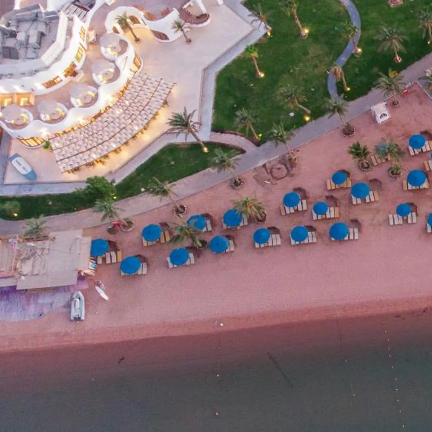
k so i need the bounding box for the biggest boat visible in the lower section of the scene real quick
[70,290,86,322]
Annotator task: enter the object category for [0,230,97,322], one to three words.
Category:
shed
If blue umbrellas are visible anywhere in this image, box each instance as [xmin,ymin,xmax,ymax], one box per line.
[407,170,426,187]
[170,249,190,266]
[330,224,349,241]
[143,225,162,242]
[120,255,142,276]
[91,240,110,256]
[284,194,300,208]
[254,228,271,244]
[351,183,370,199]
[332,172,348,186]
[313,202,328,216]
[291,227,308,242]
[210,236,230,254]
[408,135,425,150]
[396,204,412,218]
[224,210,242,227]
